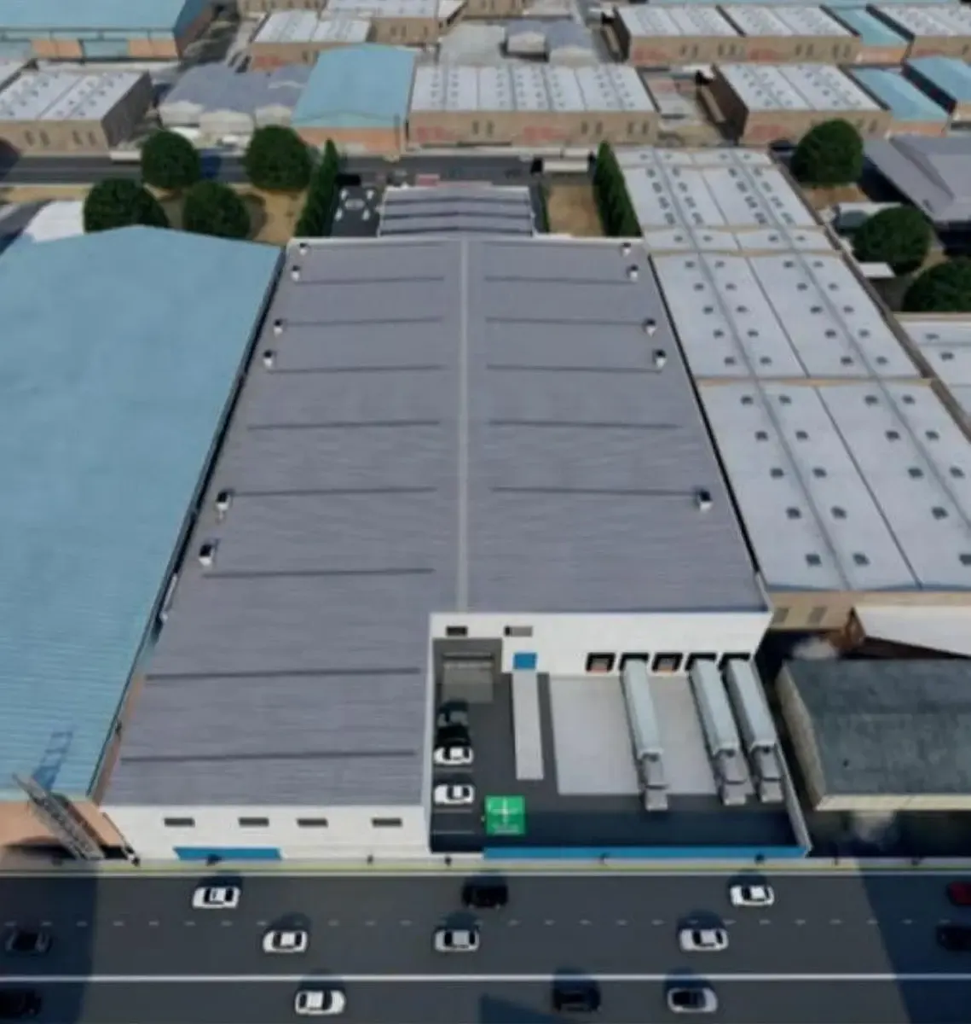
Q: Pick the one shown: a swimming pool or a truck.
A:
truck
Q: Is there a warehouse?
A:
Yes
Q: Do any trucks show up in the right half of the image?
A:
Yes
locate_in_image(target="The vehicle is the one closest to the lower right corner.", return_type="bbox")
[934,923,971,950]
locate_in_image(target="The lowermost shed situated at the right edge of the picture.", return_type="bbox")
[772,653,971,810]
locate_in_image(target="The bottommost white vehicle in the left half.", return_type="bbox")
[295,987,345,1015]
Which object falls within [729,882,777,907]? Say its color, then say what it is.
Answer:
white car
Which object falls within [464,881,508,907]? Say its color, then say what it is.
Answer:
black car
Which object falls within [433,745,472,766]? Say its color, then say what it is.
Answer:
white car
